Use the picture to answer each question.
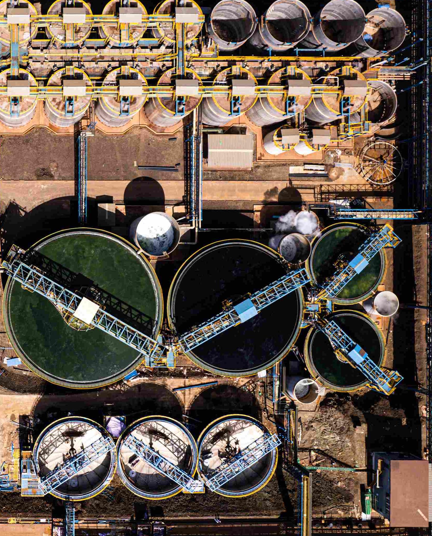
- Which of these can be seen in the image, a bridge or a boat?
bridge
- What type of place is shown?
industrial area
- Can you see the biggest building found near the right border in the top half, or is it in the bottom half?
bottom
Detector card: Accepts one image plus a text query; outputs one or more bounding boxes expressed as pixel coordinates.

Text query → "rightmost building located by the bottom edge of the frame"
[364,447,425,527]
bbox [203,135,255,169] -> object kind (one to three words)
building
